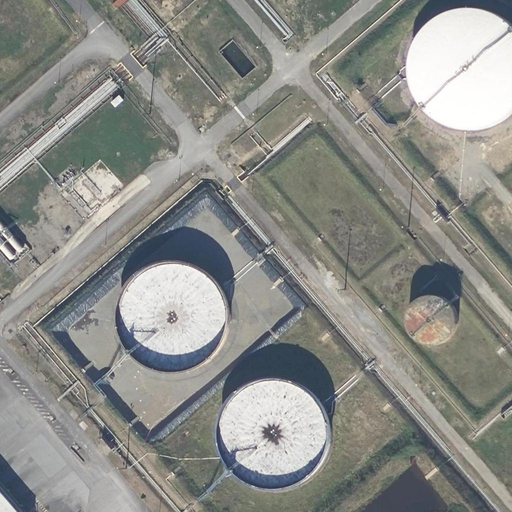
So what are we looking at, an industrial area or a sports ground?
industrial area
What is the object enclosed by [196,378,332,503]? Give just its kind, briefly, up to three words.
storage tank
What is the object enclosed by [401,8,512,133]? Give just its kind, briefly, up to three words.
storage tank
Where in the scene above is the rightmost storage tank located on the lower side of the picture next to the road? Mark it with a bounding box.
[402,292,461,348]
